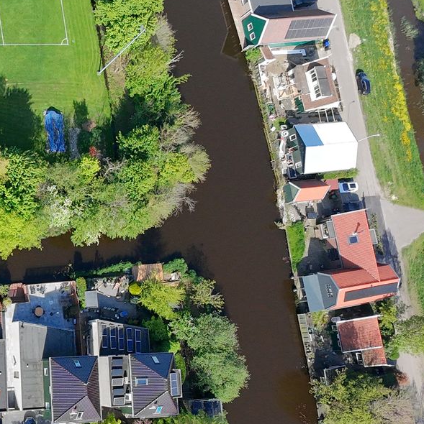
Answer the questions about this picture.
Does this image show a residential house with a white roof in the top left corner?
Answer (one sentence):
No, there's no residential house with a white roof to be seen in the top left corner.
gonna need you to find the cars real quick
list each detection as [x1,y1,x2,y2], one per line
[338,193,363,206]
[338,181,359,193]
[22,416,36,424]
[354,71,371,94]
[293,0,310,7]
